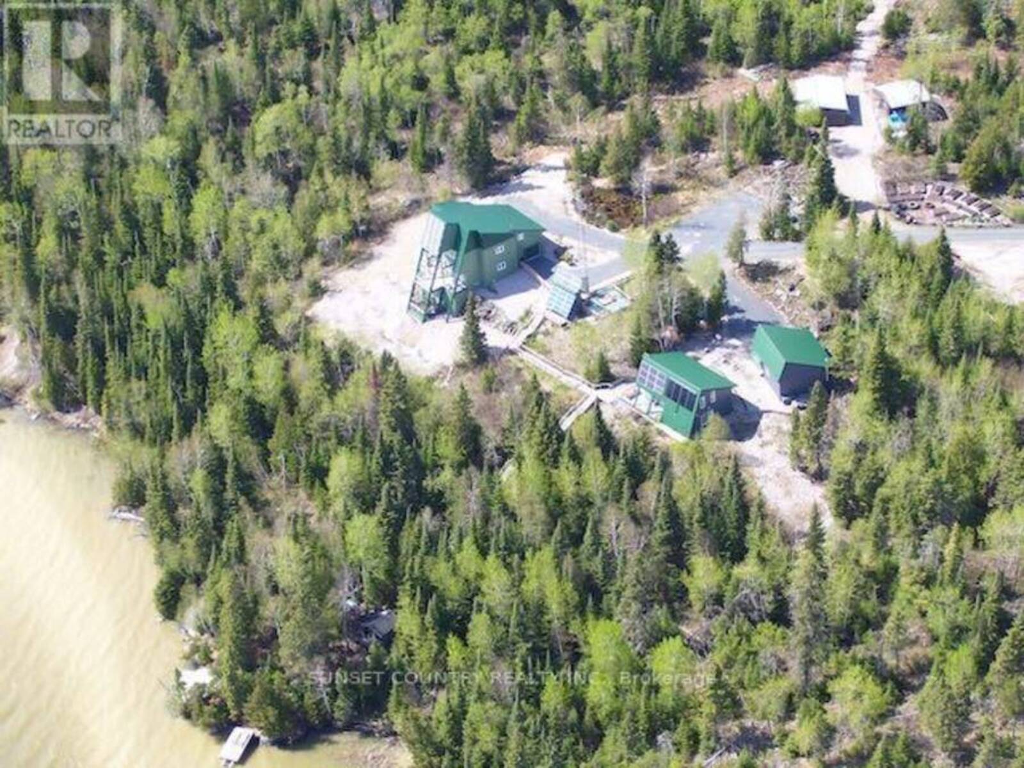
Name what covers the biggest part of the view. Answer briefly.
trees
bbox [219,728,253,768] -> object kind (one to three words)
pier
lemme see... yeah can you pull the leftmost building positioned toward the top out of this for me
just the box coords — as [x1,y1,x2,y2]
[406,202,545,322]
